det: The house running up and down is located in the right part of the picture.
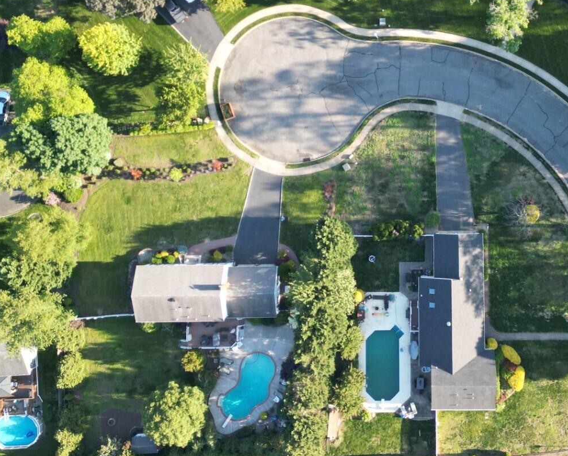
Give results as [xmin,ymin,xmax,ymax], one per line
[411,233,496,411]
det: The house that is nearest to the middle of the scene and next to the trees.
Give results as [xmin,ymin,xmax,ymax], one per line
[131,256,280,350]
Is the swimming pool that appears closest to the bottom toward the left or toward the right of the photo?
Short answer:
left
